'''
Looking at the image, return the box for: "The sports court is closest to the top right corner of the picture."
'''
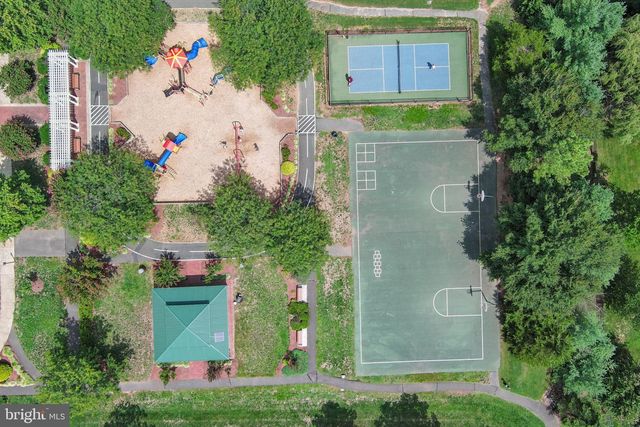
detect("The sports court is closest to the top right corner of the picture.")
[328,31,469,105]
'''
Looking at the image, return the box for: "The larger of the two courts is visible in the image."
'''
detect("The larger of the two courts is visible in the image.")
[349,126,500,376]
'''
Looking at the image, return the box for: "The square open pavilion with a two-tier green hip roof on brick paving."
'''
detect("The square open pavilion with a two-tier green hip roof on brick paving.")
[152,285,231,362]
